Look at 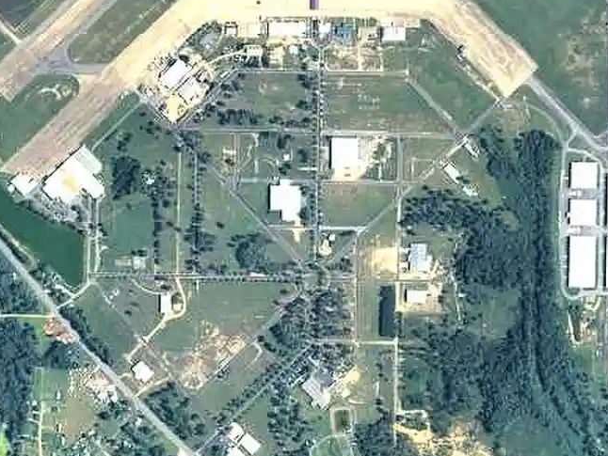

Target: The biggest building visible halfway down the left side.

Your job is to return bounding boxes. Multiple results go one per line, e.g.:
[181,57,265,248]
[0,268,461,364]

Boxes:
[41,159,105,203]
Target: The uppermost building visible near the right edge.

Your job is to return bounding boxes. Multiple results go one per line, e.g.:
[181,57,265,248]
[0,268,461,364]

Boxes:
[570,162,597,188]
